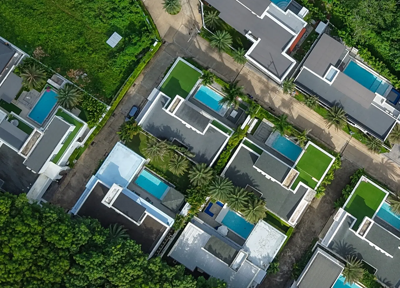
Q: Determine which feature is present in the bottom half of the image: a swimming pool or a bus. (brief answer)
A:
swimming pool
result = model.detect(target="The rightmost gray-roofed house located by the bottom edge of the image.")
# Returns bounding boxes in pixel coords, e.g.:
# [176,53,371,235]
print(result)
[320,174,400,288]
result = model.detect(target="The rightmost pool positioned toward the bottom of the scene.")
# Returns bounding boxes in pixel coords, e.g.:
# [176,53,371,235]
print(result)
[377,202,400,232]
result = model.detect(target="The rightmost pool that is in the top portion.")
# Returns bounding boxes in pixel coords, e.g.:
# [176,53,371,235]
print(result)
[386,85,400,107]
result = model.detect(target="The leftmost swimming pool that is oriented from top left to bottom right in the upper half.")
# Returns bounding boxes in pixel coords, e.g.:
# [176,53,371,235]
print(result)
[192,83,231,119]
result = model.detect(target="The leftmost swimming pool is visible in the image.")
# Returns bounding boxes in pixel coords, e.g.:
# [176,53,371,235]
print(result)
[25,86,61,127]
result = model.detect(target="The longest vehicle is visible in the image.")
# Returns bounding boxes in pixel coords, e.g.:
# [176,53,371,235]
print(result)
[123,103,140,125]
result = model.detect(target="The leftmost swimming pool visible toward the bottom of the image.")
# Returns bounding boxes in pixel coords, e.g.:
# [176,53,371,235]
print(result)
[133,169,172,201]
